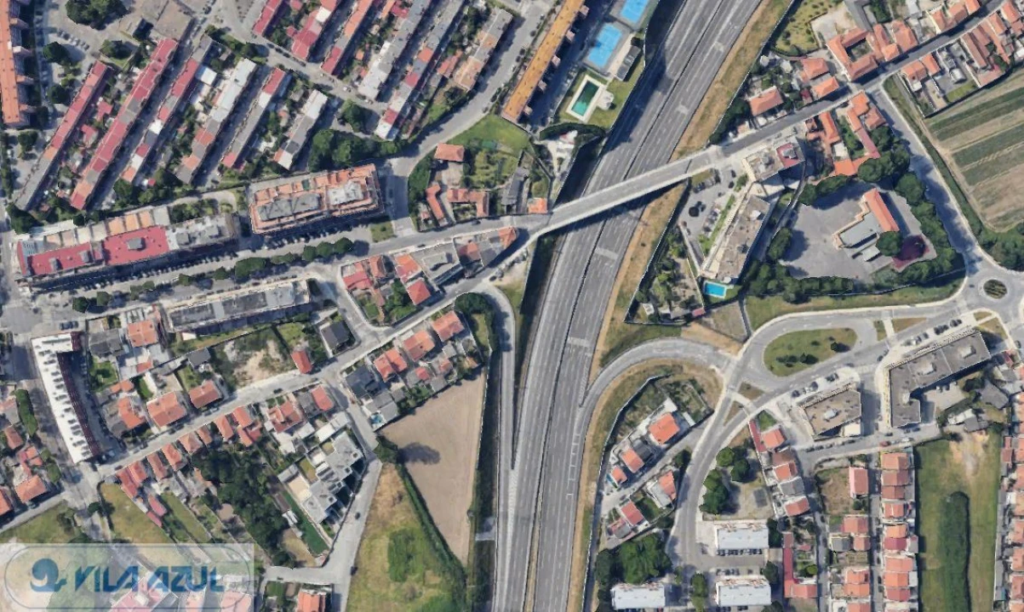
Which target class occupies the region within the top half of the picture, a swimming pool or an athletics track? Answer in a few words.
swimming pool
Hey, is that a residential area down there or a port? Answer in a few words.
residential area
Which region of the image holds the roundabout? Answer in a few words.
right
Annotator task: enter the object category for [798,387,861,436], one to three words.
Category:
building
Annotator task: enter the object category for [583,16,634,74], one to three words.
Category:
sports court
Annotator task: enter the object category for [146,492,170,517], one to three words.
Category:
house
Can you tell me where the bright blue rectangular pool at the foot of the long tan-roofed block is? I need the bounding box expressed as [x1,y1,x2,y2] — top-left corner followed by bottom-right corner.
[702,280,727,298]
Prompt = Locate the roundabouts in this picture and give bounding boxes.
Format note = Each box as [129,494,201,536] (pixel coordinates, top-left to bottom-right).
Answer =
[971,264,1020,314]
